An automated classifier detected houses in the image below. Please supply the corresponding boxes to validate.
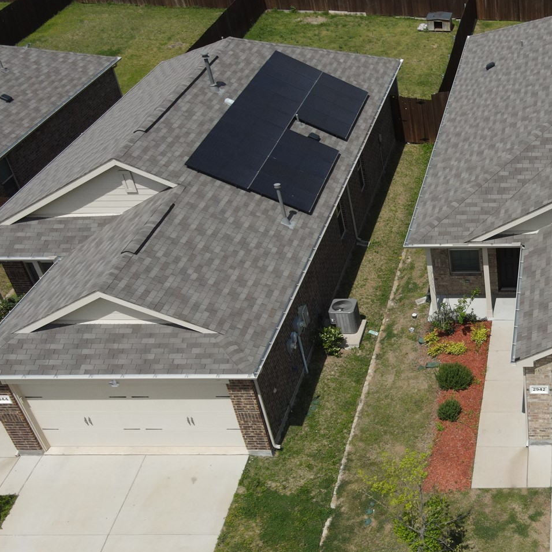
[0,37,404,460]
[404,16,552,447]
